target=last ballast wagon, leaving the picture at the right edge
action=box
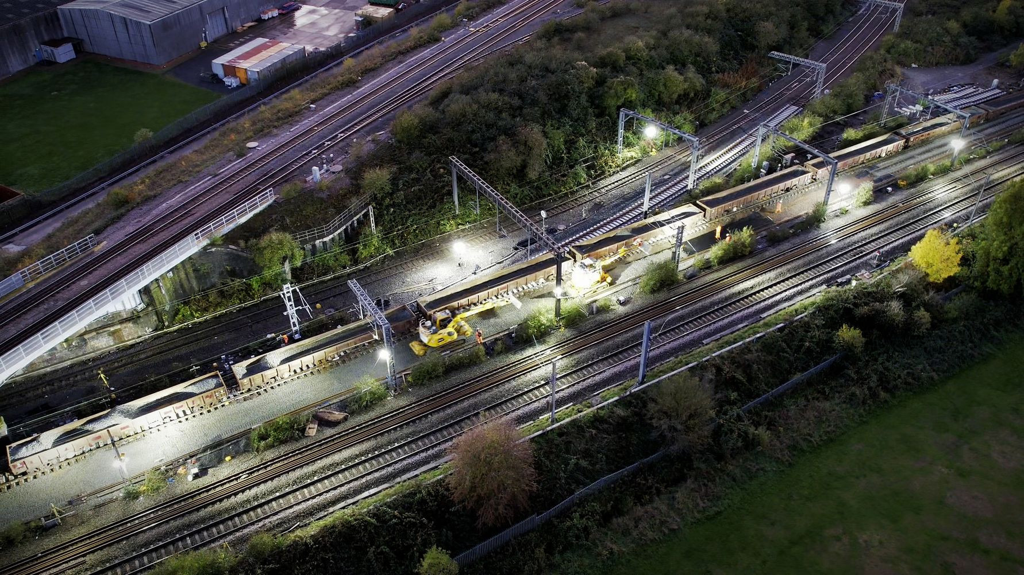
[966,80,1024,120]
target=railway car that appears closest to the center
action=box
[411,248,574,324]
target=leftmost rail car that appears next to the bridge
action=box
[5,367,235,475]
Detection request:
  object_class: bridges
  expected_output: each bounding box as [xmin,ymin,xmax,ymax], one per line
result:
[0,190,282,387]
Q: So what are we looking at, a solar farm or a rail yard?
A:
rail yard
